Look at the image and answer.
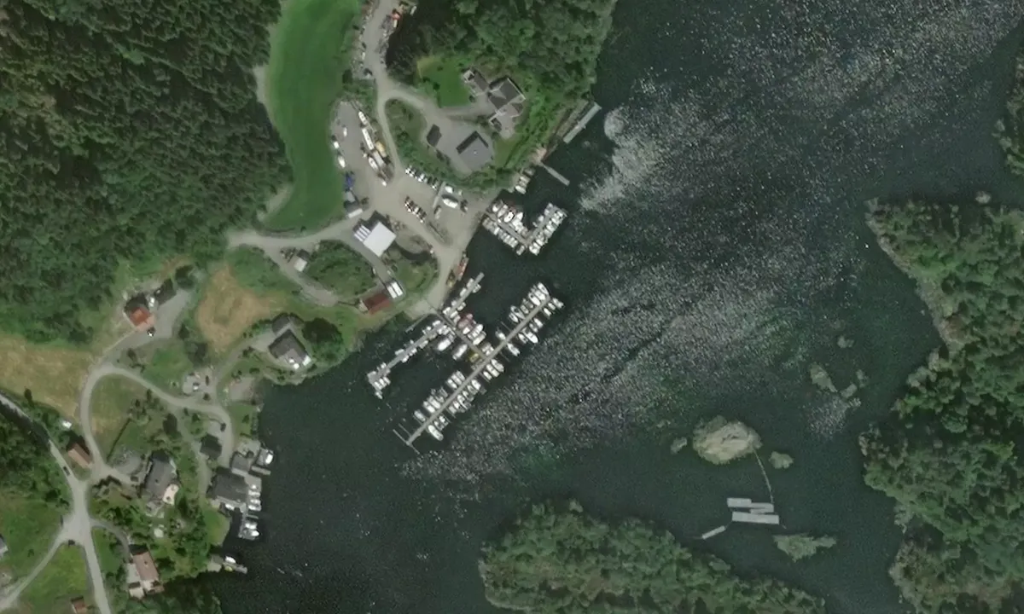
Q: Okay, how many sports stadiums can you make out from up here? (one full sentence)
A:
The count of sports stadiums is 0.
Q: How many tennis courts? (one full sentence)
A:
There are no tennis courts in this view.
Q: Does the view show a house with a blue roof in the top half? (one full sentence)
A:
No, there is no house with a blue roof in the top half.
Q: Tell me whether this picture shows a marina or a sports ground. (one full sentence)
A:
The picture captures a marina.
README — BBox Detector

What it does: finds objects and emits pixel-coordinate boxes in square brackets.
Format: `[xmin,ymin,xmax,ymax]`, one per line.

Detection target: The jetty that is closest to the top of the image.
[564,103,601,142]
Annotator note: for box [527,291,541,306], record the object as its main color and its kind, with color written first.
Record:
white boat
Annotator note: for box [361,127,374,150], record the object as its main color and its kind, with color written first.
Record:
white vehicle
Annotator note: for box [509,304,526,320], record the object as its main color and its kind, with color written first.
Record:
white boat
